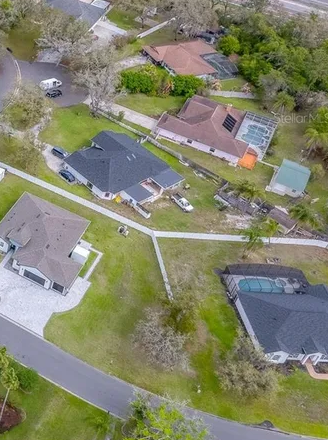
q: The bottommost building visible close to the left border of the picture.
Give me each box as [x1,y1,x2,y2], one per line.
[0,191,90,303]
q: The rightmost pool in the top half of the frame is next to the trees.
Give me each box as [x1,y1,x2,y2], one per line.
[235,120,274,168]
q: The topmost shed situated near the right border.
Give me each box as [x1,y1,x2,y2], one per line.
[273,154,314,200]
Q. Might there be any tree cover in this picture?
Yes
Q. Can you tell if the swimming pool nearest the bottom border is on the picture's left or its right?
right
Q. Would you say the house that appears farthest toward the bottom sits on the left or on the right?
right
